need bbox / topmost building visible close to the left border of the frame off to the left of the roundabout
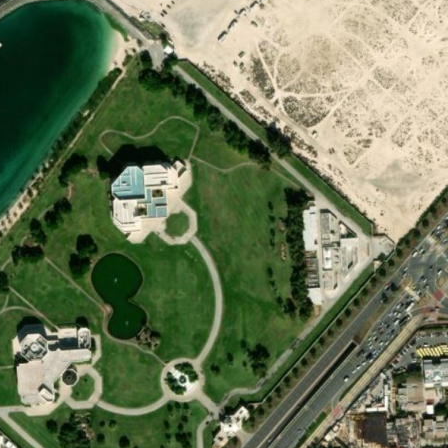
[13,326,91,404]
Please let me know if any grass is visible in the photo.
Yes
